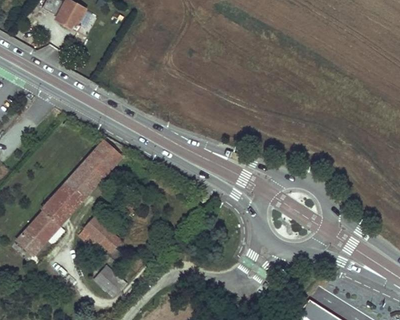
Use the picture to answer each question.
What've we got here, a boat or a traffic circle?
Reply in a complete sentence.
Of the two, only a traffic circle appears.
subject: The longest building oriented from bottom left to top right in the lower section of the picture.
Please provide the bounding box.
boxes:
[16,140,123,256]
